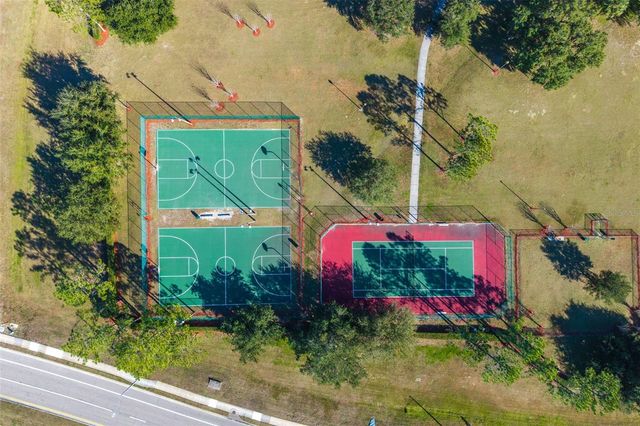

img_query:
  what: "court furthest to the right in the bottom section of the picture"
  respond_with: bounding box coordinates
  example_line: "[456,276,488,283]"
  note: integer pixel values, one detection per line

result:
[321,222,505,314]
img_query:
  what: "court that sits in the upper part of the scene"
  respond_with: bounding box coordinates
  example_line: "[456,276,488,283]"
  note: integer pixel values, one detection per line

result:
[158,129,291,209]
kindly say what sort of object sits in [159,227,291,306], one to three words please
basketball court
